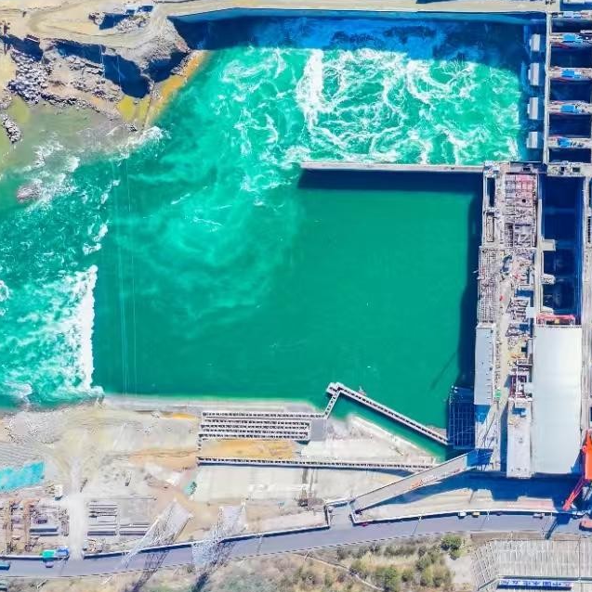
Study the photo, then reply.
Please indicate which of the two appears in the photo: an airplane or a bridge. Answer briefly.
bridge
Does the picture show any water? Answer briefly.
Yes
